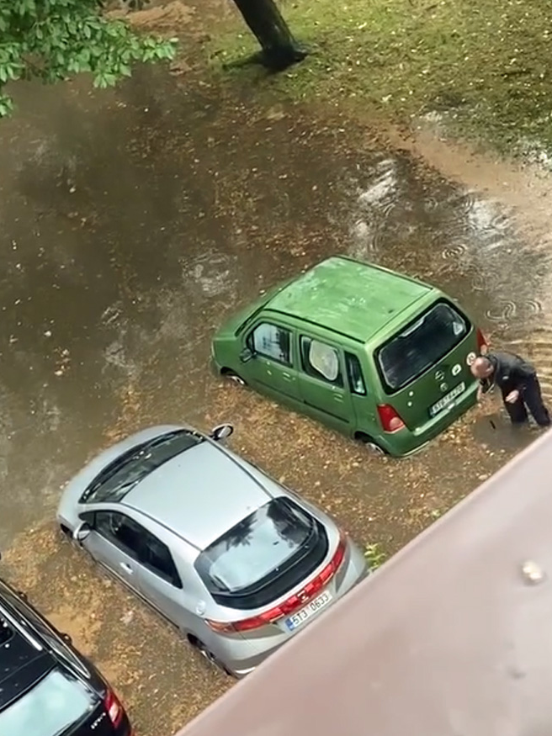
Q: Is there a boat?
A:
No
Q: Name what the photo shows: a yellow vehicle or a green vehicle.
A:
green vehicle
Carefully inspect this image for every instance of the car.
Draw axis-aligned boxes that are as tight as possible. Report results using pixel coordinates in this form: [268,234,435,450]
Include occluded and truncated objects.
[217,257,480,453]
[63,422,362,673]
[0,585,138,736]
